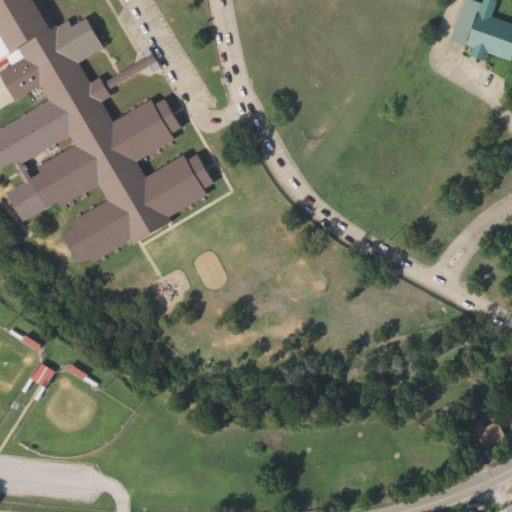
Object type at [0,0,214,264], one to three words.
building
